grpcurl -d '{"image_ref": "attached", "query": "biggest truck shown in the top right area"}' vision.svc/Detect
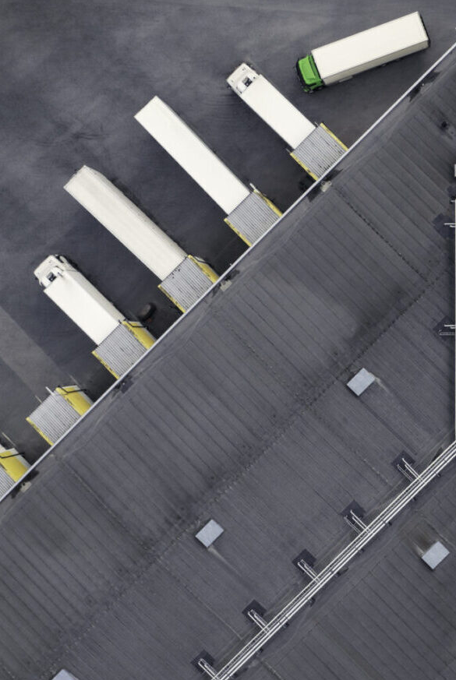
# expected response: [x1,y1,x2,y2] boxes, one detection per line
[291,12,429,99]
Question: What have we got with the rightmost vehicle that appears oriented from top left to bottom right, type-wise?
truck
